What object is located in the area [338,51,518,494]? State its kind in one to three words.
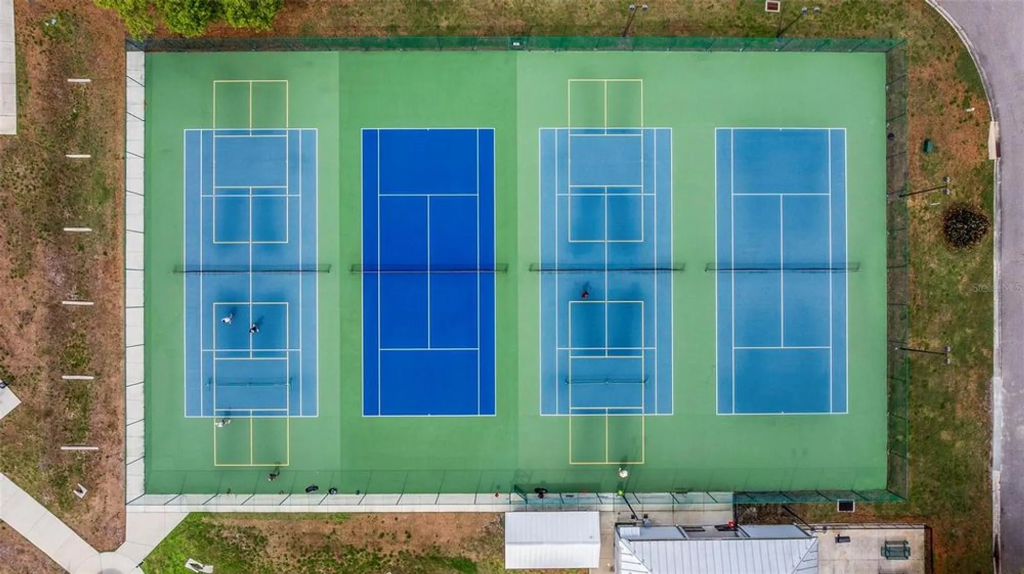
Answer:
tennis court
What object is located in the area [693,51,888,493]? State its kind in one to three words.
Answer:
tennis court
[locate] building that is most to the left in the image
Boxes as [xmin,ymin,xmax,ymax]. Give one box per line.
[505,506,600,569]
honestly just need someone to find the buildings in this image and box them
[615,523,818,574]
[505,506,600,569]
